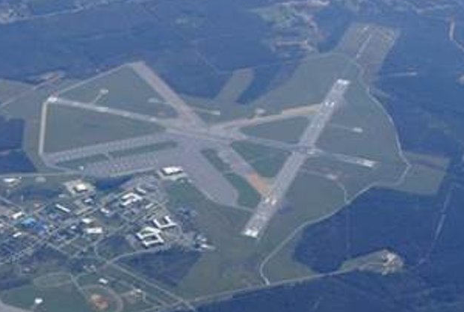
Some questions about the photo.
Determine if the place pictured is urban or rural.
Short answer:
rural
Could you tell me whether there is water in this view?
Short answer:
No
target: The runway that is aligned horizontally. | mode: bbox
[46,97,381,166]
